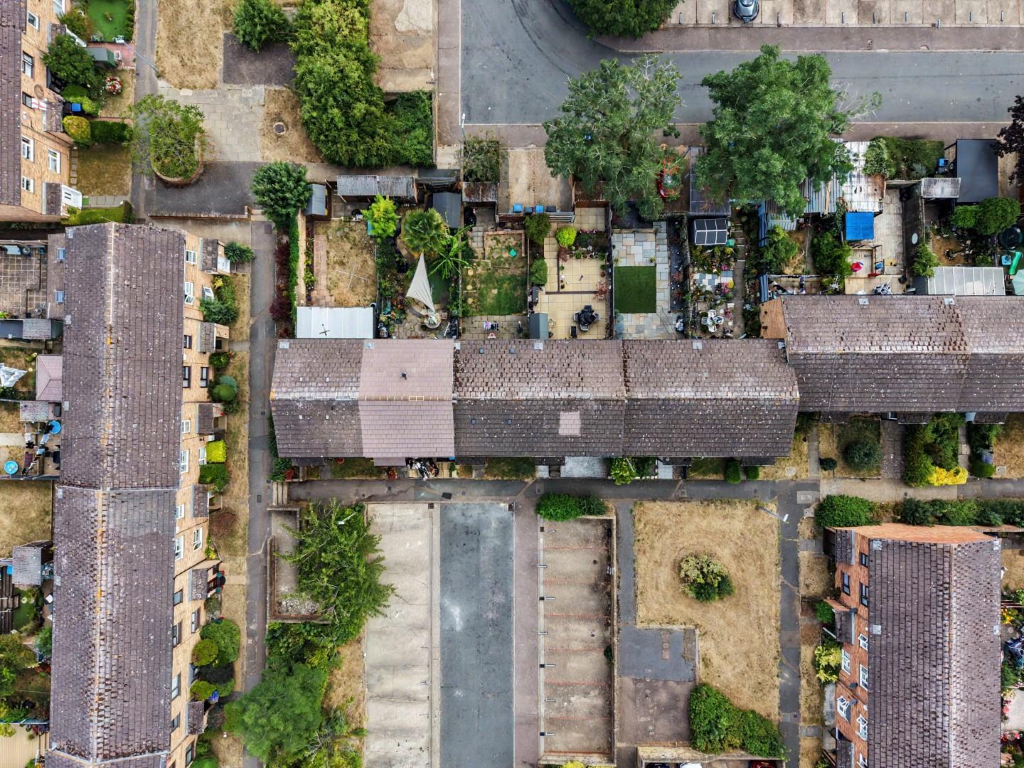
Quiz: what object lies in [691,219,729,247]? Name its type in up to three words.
greenhouse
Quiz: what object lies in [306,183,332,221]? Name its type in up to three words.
shed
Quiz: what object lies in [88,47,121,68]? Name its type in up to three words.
building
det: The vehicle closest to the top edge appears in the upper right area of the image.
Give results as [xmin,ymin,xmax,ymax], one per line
[731,0,762,22]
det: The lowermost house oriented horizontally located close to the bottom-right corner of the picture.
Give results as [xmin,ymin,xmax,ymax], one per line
[822,679,1003,768]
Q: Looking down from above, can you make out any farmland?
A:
No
